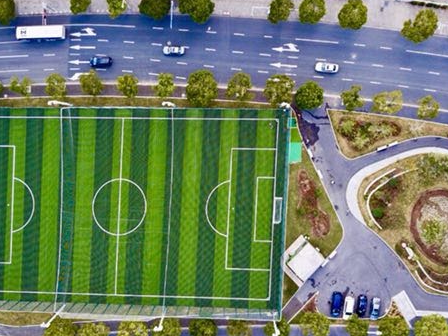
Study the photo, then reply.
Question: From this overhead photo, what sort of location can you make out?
sports ground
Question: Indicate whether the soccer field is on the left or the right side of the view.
left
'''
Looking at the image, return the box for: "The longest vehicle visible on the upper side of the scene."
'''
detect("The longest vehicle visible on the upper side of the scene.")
[13,24,69,40]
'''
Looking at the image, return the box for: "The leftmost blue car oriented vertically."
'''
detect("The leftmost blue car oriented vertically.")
[331,291,343,316]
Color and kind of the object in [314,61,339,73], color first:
white vehicle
